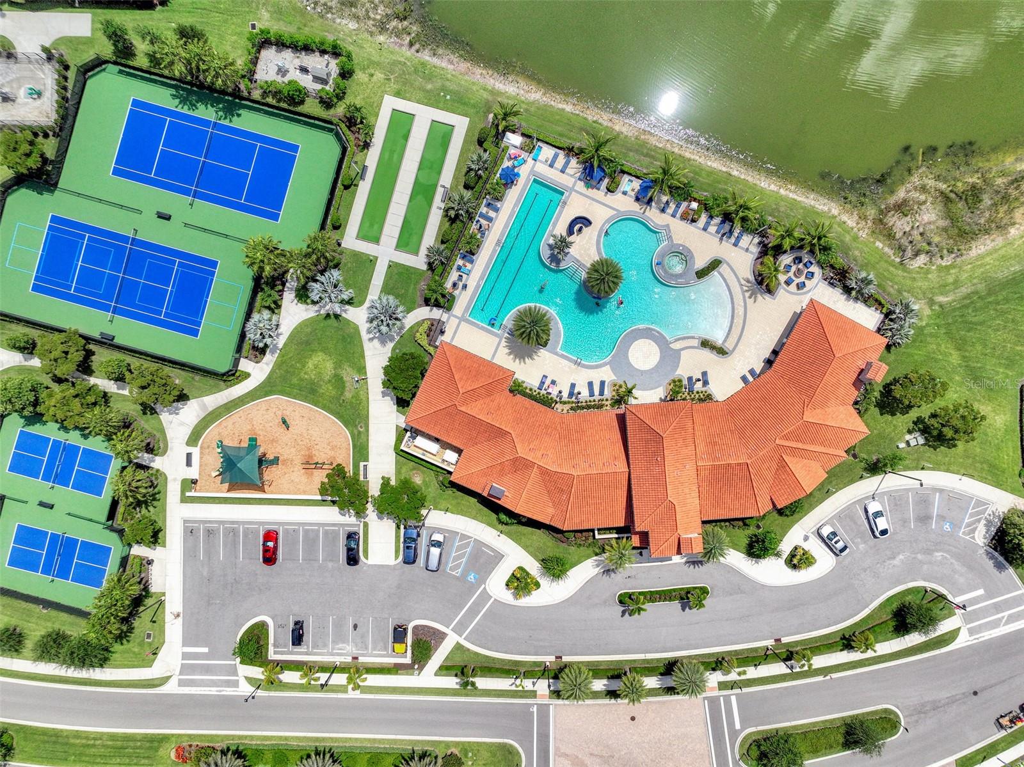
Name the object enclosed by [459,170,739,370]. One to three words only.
swimming pool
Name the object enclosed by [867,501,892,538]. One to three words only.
car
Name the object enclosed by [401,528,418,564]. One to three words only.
car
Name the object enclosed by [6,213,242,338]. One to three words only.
tennis court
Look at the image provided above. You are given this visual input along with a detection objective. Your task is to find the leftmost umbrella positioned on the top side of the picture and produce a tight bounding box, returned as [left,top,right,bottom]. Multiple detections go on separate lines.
[499,166,517,184]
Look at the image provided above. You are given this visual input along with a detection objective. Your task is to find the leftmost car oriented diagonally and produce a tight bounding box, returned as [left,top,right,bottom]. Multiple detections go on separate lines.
[821,524,849,559]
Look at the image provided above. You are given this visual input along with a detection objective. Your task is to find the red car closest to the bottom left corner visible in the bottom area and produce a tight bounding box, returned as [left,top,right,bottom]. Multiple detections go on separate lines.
[259,531,277,566]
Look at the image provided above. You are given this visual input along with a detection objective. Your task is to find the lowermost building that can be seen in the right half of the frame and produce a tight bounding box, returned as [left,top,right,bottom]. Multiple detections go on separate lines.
[404,298,889,558]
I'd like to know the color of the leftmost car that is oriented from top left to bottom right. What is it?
white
